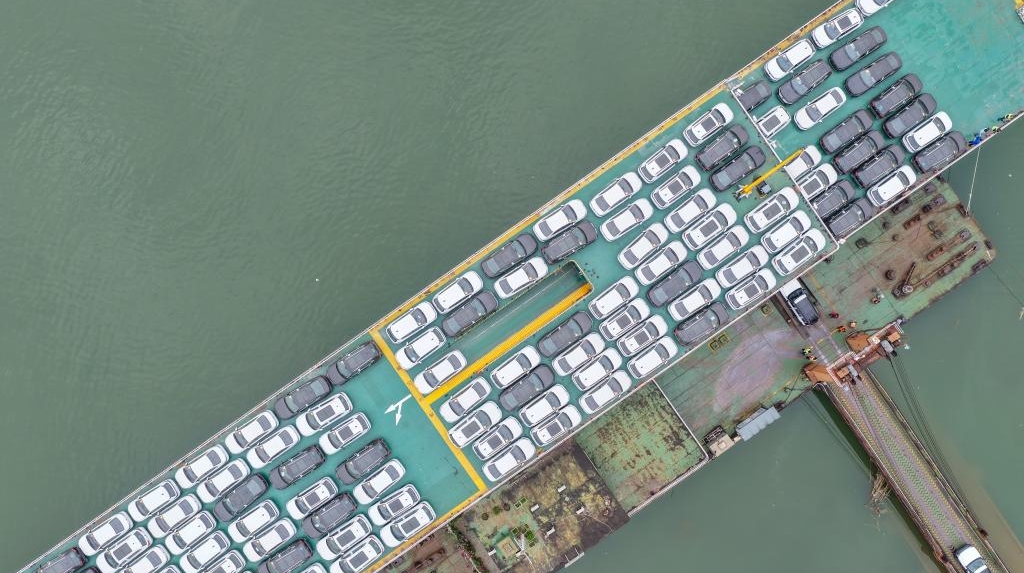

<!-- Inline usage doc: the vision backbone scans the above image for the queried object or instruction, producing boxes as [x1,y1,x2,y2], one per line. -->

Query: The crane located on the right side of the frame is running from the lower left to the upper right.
[729,151,804,202]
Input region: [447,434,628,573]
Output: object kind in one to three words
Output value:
boat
